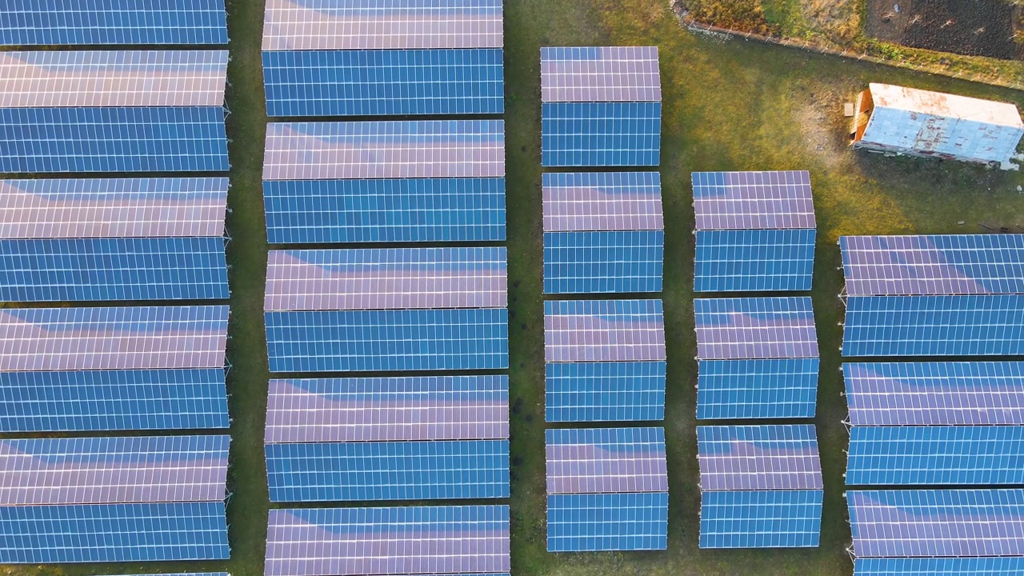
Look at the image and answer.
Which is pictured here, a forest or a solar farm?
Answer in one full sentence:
The area seen from above is a solar farm.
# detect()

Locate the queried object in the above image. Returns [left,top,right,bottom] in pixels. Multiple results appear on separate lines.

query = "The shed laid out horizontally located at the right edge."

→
[852,83,1024,166]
